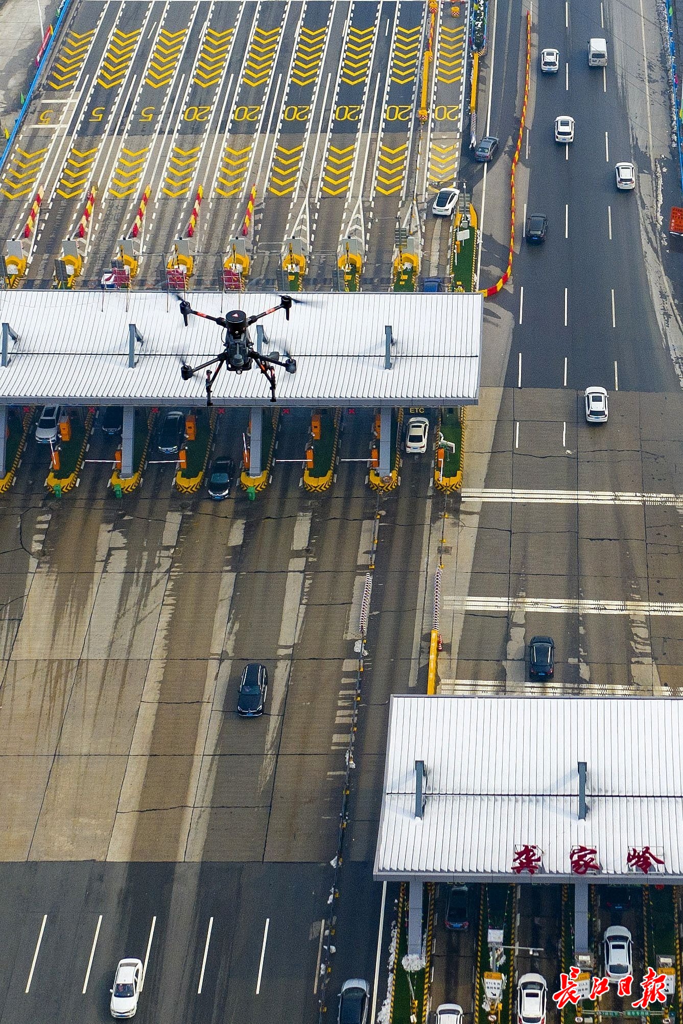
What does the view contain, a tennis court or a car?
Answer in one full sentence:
There is a car in the scene.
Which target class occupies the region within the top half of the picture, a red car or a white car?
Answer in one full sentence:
The feature located within the top half of the picture is a white car.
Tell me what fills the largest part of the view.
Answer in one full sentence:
The scene is dominated by paved ground.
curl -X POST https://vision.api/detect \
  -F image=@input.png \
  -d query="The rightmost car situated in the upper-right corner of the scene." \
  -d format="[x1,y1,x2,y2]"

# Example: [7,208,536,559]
[614,163,636,189]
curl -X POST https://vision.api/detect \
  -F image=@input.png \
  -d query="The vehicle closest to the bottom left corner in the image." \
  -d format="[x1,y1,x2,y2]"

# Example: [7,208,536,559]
[108,954,148,1017]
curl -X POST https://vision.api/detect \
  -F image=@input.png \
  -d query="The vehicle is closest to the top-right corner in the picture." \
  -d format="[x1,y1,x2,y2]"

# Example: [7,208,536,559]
[587,38,607,65]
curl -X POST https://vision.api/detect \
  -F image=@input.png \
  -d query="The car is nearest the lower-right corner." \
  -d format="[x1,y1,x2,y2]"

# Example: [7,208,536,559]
[600,924,634,983]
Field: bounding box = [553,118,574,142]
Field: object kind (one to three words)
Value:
car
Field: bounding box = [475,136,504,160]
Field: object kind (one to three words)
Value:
car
